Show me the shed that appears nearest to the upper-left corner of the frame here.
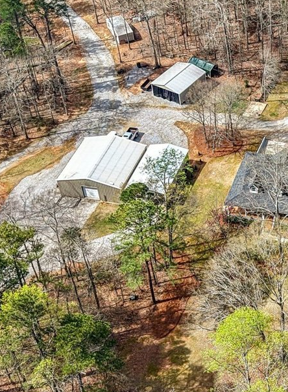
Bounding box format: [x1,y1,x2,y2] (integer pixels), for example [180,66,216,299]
[110,14,134,45]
